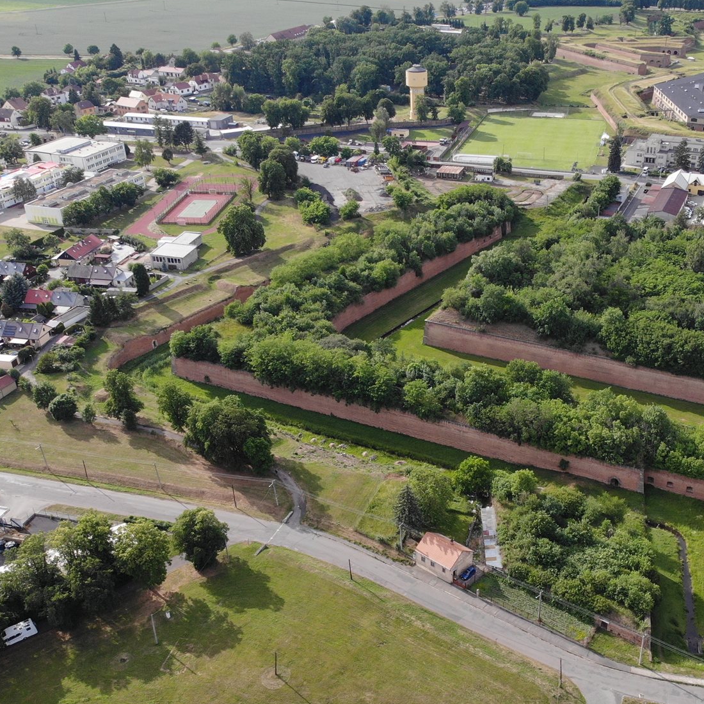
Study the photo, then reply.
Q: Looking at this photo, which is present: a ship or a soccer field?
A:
soccer field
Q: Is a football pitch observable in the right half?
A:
Yes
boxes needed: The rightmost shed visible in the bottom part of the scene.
[481,507,503,579]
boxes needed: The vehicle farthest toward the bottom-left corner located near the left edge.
[1,618,43,646]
